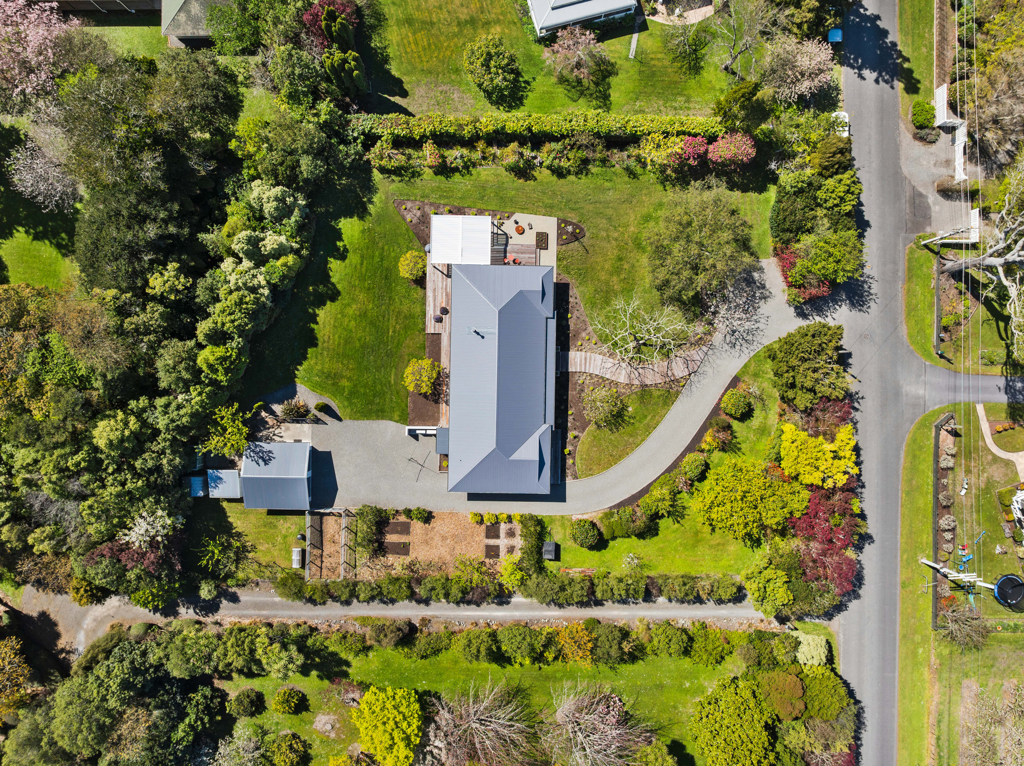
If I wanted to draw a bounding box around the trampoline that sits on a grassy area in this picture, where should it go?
[986,573,1024,611]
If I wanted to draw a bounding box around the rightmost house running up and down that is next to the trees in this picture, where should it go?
[447,264,556,495]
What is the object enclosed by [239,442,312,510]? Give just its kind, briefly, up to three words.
building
